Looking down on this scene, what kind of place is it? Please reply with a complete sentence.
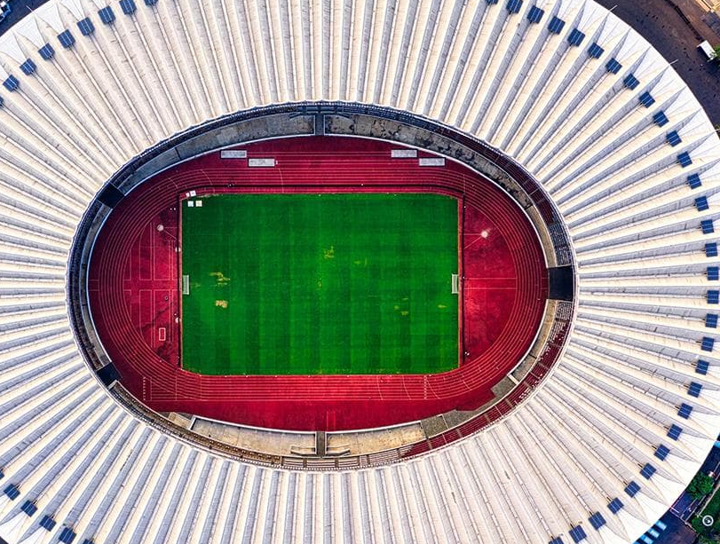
The area seen from above is a sports ground.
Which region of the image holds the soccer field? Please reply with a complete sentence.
The soccer field sits in the center section of the image.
